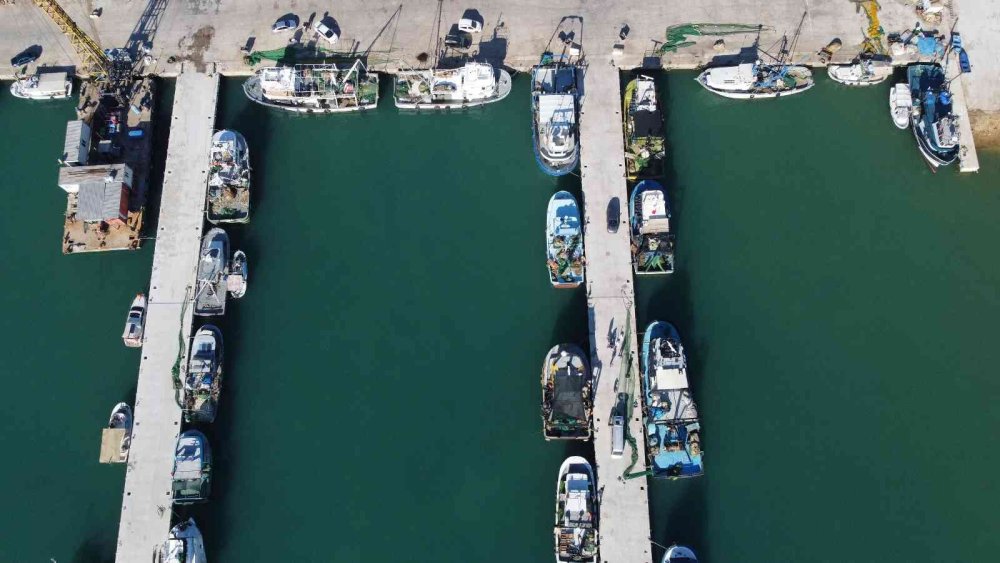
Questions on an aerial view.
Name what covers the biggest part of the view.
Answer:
water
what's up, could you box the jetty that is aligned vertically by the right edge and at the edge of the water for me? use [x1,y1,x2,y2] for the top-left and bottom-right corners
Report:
[944,64,979,175]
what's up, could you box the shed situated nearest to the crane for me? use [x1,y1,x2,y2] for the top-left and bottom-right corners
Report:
[61,123,92,167]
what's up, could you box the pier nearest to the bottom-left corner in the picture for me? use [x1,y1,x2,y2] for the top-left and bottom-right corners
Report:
[115,74,221,563]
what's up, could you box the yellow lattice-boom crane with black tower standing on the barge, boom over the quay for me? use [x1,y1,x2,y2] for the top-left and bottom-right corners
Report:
[21,0,140,112]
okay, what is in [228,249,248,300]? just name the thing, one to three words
boat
